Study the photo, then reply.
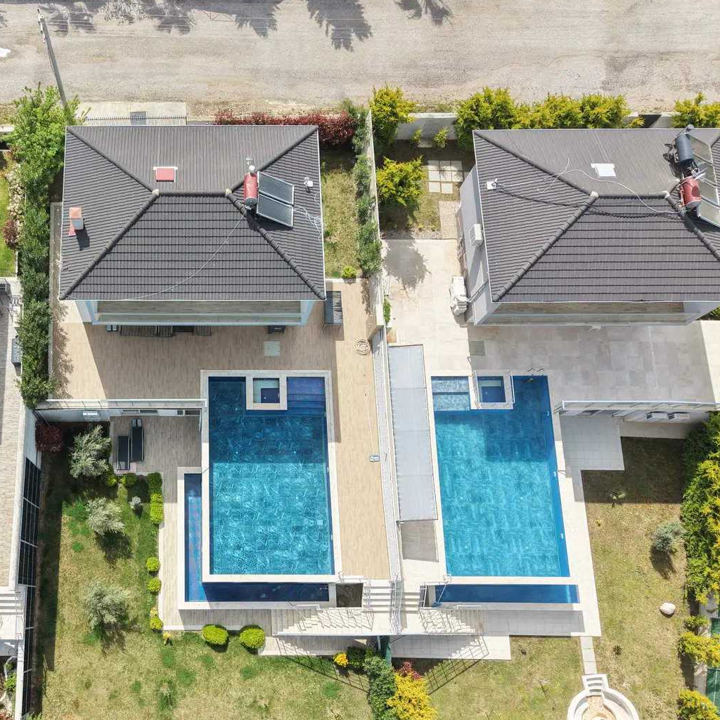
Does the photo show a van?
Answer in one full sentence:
No, I can see no van in this picture.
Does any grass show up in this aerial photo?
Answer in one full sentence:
Yes, there's grass in this view.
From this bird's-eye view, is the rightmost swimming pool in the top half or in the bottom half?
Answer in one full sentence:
You can find the rightmost swimming pool in the bottom half.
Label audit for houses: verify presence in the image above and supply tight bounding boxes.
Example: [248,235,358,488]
[57,124,327,325]
[460,127,720,325]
